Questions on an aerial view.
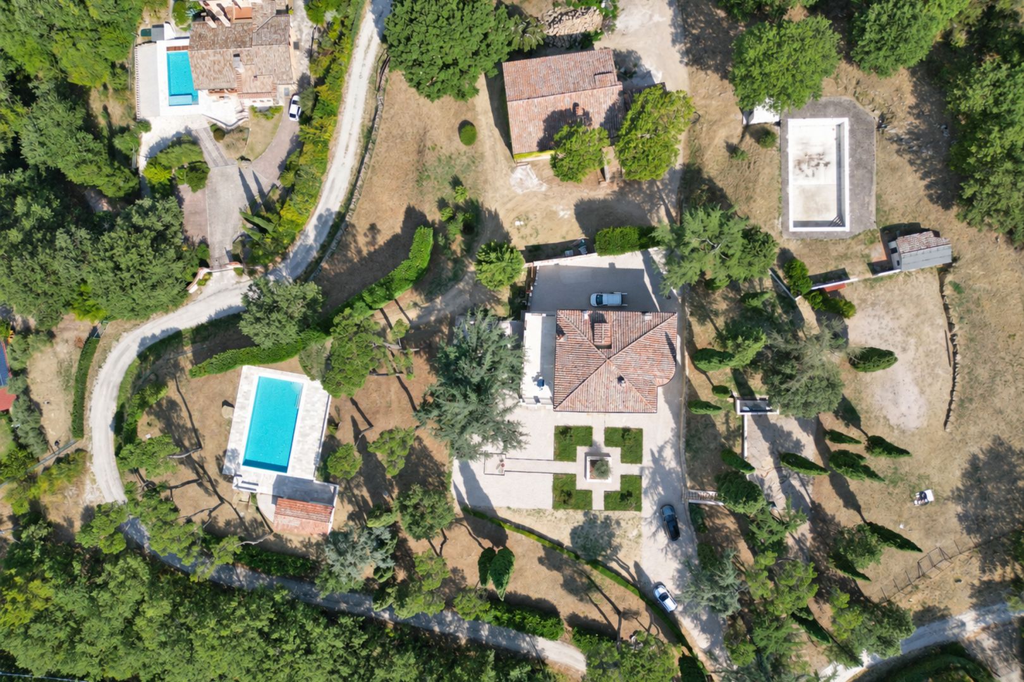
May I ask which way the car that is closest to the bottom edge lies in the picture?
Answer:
on a diagonal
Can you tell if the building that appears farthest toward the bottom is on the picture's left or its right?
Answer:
left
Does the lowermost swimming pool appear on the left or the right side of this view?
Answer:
left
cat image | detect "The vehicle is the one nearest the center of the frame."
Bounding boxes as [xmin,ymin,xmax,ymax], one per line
[590,292,625,307]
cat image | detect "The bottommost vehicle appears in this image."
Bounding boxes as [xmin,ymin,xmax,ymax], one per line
[653,583,679,614]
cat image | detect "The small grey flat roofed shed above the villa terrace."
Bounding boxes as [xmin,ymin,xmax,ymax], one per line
[152,24,171,46]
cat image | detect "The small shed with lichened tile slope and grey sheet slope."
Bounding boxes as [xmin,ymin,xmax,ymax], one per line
[886,231,952,270]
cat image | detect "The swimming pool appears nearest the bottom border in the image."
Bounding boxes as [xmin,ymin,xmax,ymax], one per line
[223,365,332,481]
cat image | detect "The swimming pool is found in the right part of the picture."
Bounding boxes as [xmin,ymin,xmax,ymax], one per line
[780,95,877,239]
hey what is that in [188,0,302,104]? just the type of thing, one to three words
house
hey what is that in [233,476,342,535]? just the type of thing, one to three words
building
